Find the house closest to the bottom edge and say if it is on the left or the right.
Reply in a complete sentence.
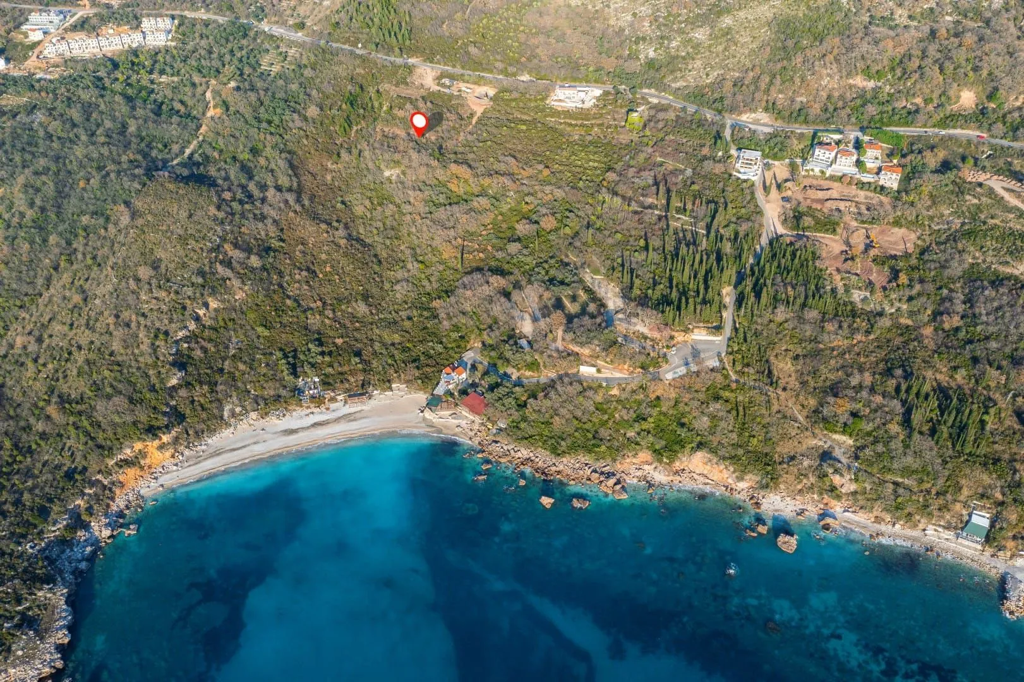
The house closest to the bottom edge sits on the right side.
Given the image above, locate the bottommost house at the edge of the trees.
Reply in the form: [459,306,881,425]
[960,508,990,551]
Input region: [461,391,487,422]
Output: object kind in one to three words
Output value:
building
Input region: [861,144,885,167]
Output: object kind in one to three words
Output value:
house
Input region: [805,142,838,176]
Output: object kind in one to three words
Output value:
house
